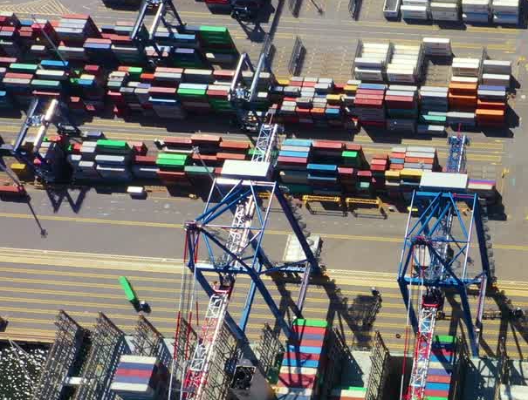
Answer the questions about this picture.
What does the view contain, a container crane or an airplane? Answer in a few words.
container crane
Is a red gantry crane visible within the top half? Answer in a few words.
No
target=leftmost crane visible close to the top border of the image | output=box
[130,0,184,82]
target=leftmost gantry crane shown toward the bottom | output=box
[165,122,322,400]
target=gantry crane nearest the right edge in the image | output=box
[396,133,496,400]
